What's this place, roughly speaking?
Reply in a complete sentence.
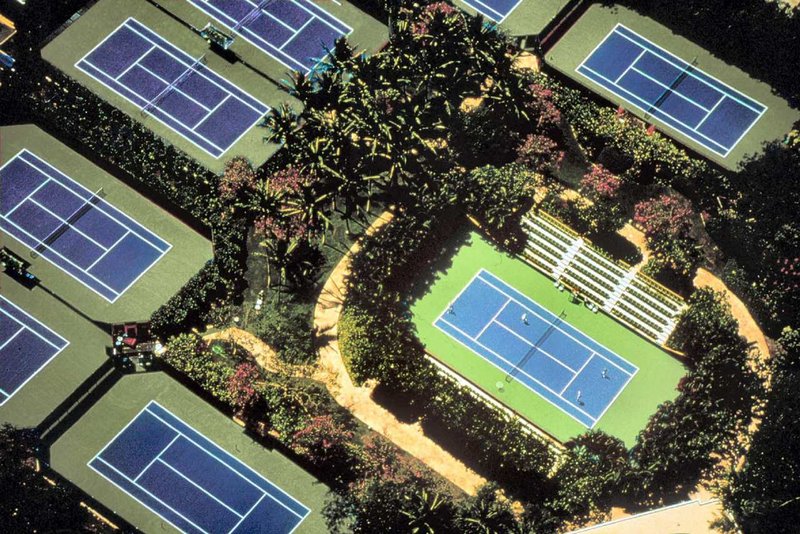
The picture captures a sports ground.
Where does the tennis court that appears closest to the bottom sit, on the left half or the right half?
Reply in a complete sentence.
The tennis court that appears closest to the bottom appears in the left half of the scene.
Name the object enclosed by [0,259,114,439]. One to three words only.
tennis court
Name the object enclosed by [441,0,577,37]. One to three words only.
tennis court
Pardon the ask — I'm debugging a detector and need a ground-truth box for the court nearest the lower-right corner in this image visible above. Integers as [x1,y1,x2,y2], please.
[402,228,686,472]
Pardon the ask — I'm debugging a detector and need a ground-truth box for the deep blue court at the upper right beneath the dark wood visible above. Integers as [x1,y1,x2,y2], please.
[538,0,800,173]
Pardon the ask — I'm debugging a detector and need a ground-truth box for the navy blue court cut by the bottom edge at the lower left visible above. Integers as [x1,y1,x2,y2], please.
[40,368,338,534]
